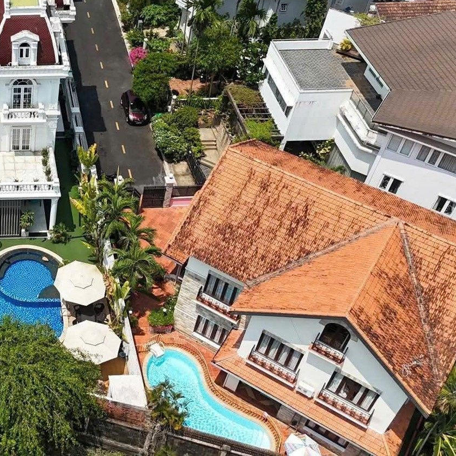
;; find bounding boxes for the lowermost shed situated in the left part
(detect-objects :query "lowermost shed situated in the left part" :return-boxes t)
[106,375,147,422]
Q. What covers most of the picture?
buildings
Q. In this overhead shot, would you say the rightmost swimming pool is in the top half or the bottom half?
bottom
